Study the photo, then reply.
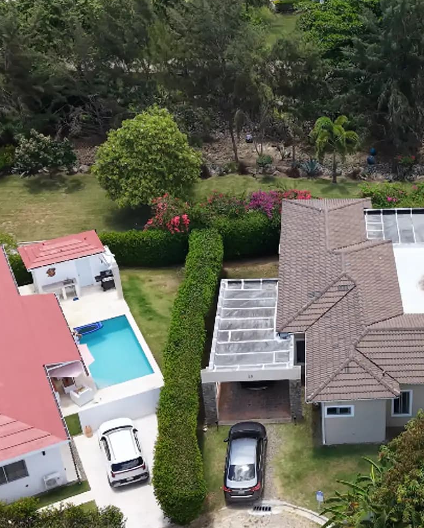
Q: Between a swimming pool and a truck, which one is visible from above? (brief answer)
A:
swimming pool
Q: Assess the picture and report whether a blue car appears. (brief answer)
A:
No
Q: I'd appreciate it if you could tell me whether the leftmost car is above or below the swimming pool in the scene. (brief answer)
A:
below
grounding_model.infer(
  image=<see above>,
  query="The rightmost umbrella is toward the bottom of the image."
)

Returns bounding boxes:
[77,348,101,381]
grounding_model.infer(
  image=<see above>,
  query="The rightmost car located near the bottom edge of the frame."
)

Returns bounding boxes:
[223,427,269,510]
